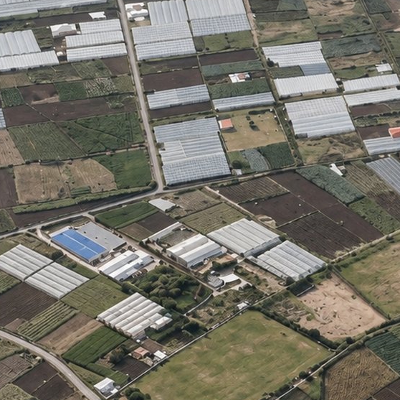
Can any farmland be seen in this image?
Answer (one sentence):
Yes, farmland shows up in the scene.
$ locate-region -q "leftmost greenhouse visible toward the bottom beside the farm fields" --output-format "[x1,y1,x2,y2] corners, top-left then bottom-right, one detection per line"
[0,244,53,282]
